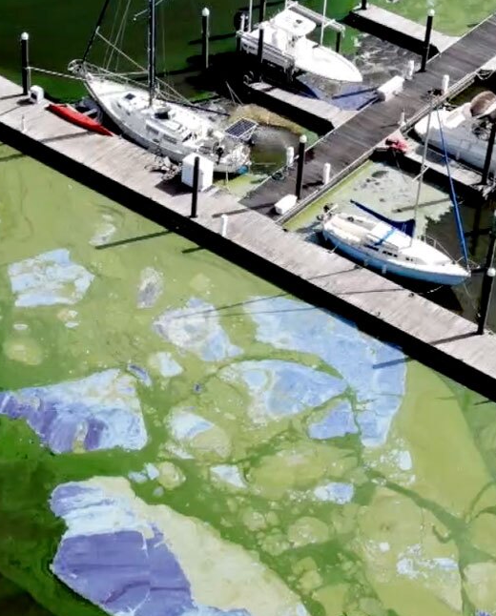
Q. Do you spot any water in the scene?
Yes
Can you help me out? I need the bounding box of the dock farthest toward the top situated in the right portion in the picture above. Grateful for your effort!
[354,5,455,58]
